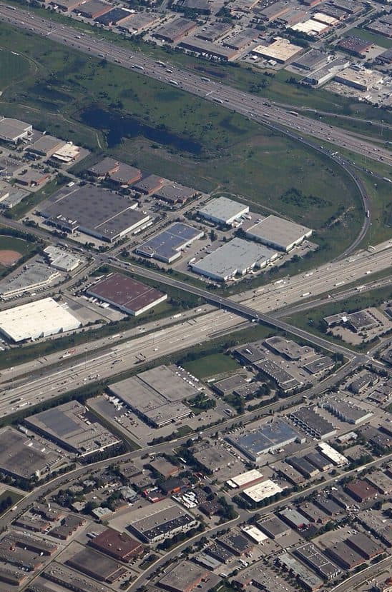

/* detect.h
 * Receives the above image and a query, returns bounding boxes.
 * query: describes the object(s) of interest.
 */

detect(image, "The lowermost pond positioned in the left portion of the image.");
[78,108,201,154]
